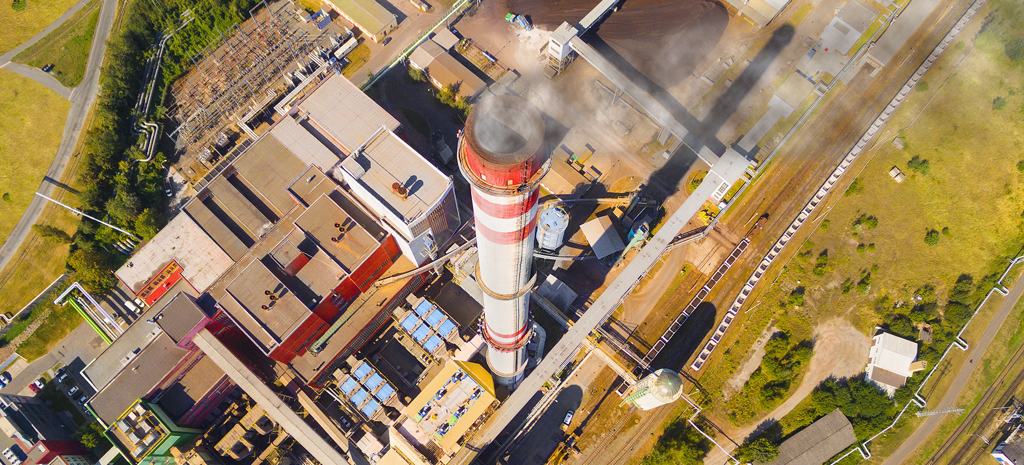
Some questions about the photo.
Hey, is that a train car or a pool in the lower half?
train car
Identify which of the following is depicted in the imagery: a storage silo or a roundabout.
storage silo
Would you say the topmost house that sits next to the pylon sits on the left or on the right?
right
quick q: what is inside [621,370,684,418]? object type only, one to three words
silo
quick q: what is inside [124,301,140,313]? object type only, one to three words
vehicle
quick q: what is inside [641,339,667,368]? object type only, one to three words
rail car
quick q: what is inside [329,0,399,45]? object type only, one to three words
building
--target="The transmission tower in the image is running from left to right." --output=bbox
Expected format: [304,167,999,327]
[916,402,967,420]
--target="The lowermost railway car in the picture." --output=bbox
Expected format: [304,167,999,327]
[617,365,645,394]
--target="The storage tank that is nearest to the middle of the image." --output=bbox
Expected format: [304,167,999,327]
[538,212,568,254]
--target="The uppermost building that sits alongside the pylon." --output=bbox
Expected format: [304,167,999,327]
[865,325,929,394]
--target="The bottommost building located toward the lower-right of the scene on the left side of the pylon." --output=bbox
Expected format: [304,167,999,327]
[746,407,860,465]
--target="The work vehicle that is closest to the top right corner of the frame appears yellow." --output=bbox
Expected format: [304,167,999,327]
[697,208,715,225]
